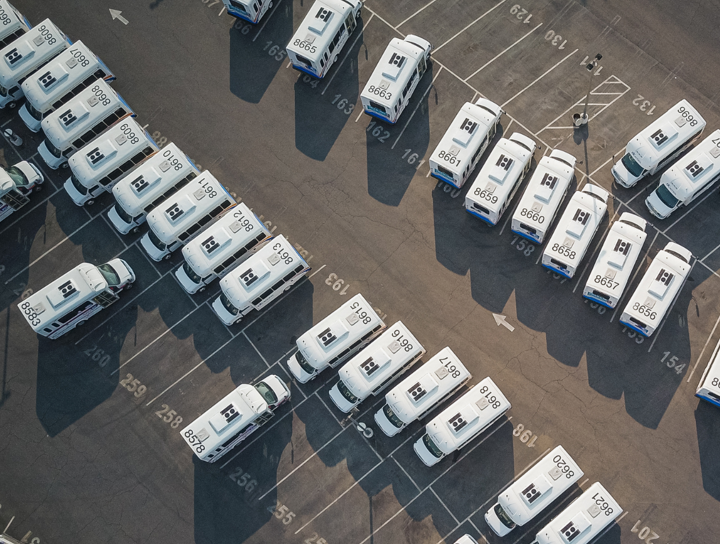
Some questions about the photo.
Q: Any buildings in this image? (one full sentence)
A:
No, no building is visible in the scene.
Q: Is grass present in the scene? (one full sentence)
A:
No, the picture contains no grass.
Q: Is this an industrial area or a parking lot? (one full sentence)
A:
It's a parking lot.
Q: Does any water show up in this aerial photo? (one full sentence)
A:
No, there is no water in the image.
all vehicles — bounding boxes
[288,0,366,82]
[0,20,73,109]
[59,117,160,207]
[644,130,720,220]
[540,185,618,281]
[509,149,587,245]
[0,0,33,50]
[32,80,136,171]
[207,235,310,327]
[102,144,202,235]
[180,376,291,468]
[17,259,134,344]
[136,171,237,263]
[370,348,473,438]
[325,323,427,414]
[520,483,622,544]
[283,294,387,385]
[0,162,45,220]
[618,243,698,340]
[170,204,274,294]
[481,447,583,539]
[12,41,115,133]
[429,98,508,192]
[411,378,513,469]
[362,34,438,126]
[223,0,273,26]
[465,132,544,227]
[609,99,706,190]
[694,341,720,409]
[579,214,657,311]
